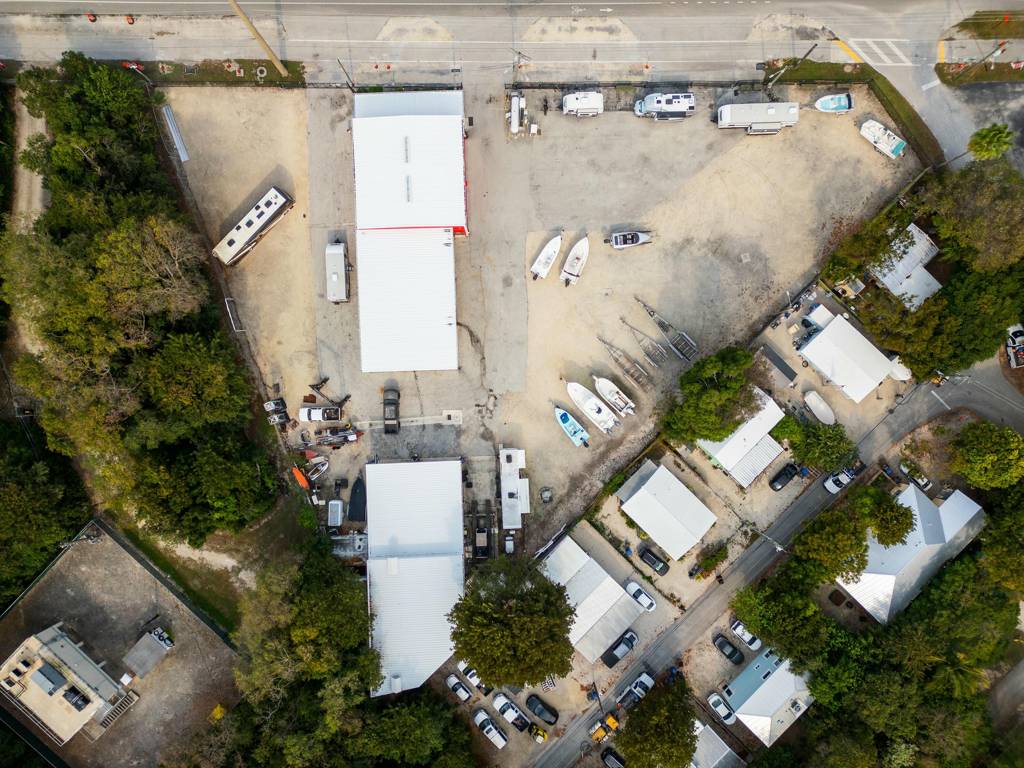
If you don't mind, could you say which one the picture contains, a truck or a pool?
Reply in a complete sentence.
The one in the frame is a truck.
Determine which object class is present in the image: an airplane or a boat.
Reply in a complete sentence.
I can see a boat in this picture.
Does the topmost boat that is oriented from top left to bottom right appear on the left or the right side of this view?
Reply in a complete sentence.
The topmost boat that is oriented from top left to bottom right sits on the right side.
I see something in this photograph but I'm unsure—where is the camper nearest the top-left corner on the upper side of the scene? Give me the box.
[214,184,295,269]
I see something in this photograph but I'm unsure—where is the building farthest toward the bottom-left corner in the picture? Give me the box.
[0,612,141,746]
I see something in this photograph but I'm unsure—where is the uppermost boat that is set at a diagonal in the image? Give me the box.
[860,122,905,159]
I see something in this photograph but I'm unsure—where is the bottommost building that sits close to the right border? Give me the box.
[842,483,986,625]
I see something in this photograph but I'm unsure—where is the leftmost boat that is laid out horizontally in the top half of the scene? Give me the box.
[606,231,651,248]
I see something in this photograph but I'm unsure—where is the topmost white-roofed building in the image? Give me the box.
[351,89,472,238]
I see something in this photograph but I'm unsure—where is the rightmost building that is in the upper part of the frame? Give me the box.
[861,223,941,312]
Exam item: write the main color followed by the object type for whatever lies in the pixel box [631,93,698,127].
white camper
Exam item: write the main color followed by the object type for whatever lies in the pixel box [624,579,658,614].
white car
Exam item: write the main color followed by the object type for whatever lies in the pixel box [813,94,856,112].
white boat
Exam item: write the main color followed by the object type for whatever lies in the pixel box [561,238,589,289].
white boat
